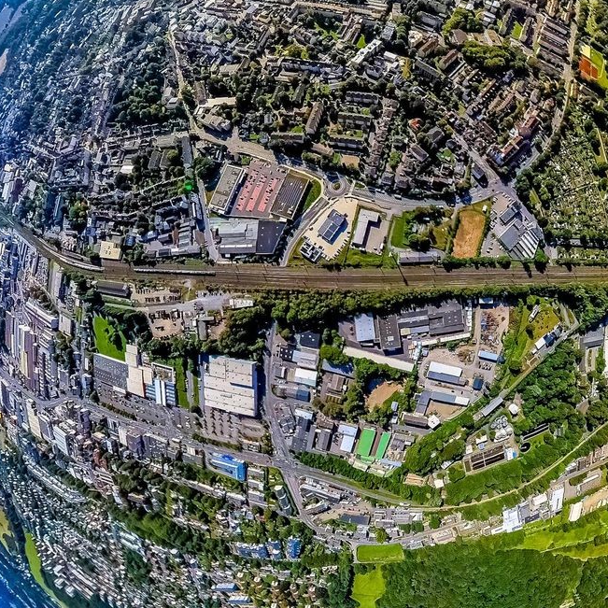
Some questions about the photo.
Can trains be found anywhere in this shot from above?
Yes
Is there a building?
Yes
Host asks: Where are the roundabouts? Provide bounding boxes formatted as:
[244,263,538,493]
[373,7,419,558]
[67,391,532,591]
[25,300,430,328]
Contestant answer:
[321,172,352,200]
